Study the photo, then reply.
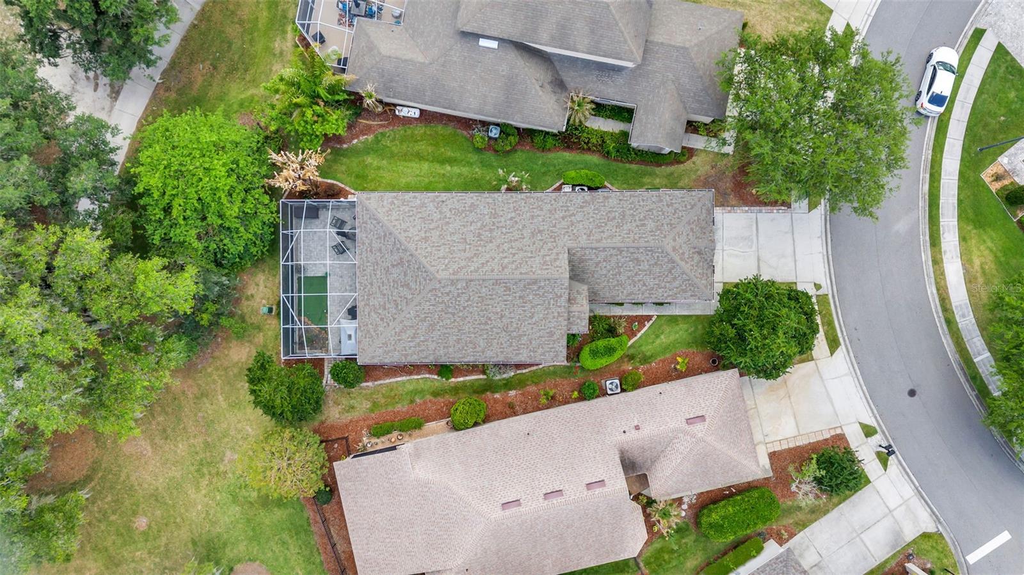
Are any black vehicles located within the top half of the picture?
No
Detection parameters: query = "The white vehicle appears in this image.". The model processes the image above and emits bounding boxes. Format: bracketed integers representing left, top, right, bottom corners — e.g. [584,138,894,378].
[912,45,960,119]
